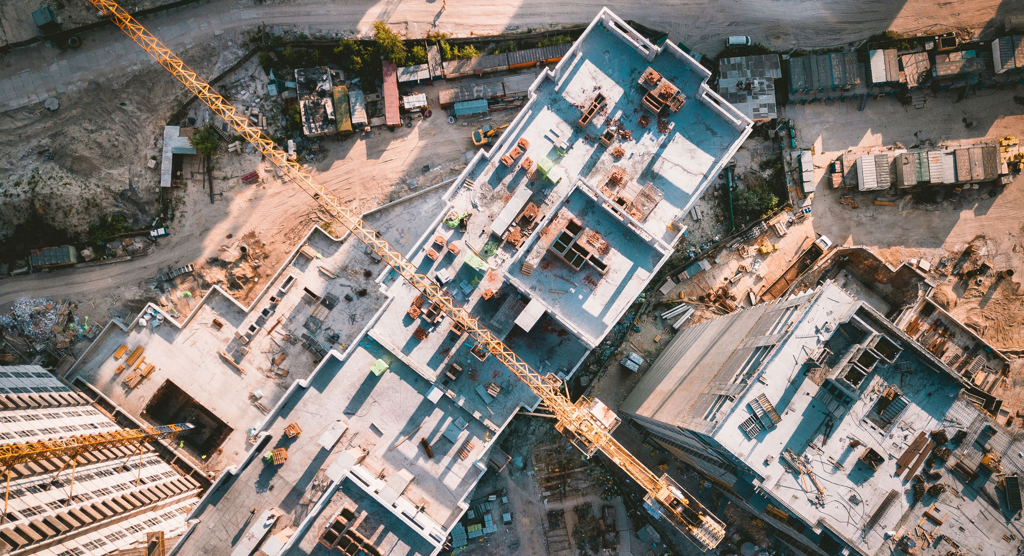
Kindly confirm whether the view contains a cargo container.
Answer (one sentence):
Yes, a cargo container appears in the view.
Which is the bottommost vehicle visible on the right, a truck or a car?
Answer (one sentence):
Looking closely, the bottommost vehicle visible on the right is a truck.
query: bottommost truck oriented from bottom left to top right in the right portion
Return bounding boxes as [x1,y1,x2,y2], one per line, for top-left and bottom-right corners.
[757,233,837,301]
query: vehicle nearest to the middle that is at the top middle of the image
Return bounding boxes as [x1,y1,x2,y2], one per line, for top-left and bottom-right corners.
[468,125,508,149]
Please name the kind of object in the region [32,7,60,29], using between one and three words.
building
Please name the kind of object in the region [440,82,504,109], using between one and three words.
building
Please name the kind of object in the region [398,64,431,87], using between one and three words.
shed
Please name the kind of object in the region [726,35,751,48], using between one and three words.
vehicle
